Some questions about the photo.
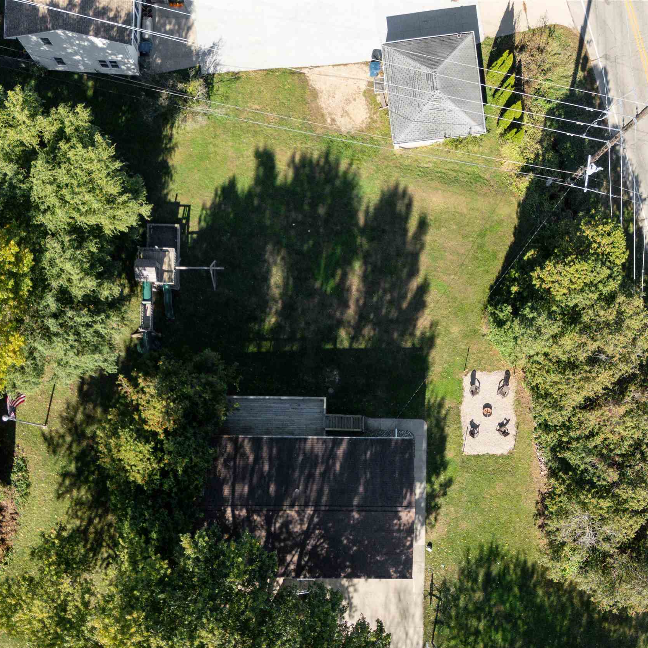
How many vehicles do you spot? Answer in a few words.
0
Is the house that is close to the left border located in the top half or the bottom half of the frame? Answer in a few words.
top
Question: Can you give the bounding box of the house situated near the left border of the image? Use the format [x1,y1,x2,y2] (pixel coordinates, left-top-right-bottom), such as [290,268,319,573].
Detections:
[2,0,146,77]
